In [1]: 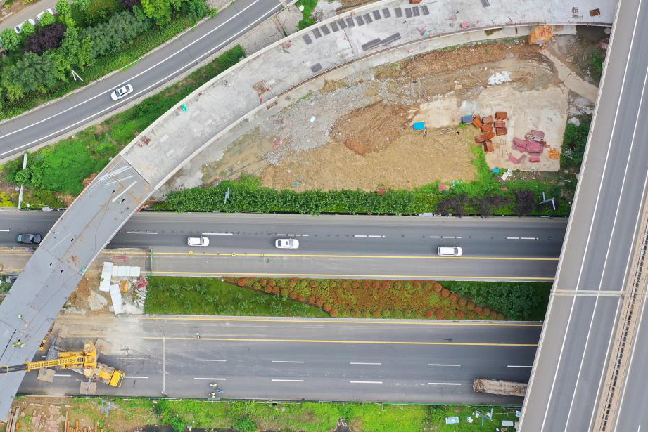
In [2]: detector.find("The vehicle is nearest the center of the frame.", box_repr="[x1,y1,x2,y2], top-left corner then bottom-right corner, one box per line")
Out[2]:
[275,238,299,250]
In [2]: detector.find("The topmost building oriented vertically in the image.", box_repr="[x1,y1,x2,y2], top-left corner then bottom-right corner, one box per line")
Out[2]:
[99,262,114,291]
